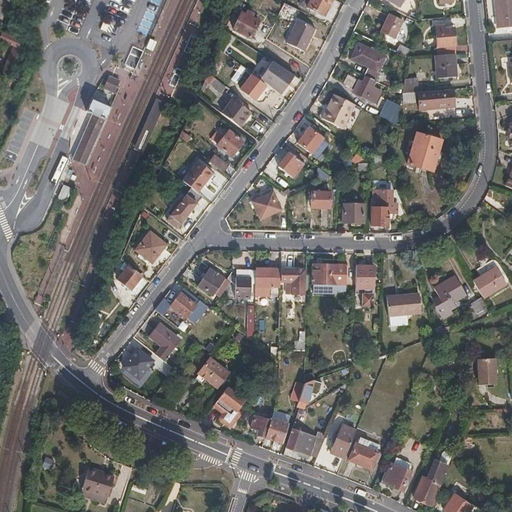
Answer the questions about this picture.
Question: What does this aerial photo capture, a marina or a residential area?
residential area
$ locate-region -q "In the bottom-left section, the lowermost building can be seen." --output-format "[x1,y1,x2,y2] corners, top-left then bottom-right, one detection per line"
[82,468,116,506]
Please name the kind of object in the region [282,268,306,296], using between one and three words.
house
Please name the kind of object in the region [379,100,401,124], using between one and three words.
shed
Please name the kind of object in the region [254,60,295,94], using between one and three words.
house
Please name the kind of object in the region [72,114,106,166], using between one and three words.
building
